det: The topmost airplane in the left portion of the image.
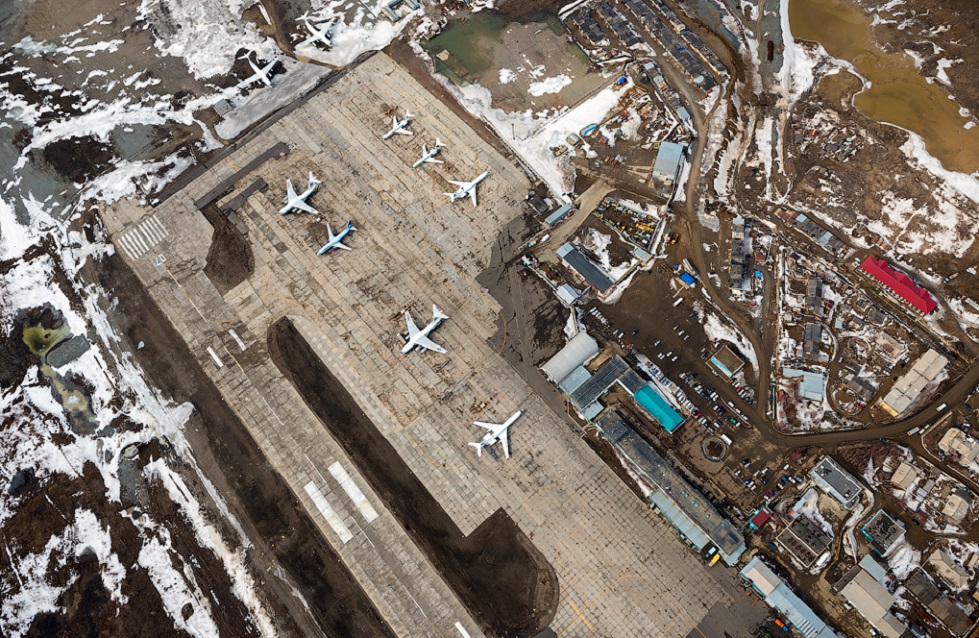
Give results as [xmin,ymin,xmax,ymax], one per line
[295,12,337,45]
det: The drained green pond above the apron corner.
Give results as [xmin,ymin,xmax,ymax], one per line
[420,8,512,87]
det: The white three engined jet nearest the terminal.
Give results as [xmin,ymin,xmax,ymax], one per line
[468,409,524,458]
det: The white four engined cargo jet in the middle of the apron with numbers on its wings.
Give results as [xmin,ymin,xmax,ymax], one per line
[402,300,453,353]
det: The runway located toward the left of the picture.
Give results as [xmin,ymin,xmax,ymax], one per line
[112,204,485,638]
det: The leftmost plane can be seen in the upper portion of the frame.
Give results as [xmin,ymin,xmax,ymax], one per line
[236,52,280,86]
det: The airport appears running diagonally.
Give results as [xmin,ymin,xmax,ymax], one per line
[100,50,789,638]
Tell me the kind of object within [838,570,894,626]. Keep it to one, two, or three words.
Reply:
barn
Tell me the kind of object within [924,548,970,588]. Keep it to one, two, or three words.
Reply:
house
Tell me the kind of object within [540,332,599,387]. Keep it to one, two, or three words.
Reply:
hangar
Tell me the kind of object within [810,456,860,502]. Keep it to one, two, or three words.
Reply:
building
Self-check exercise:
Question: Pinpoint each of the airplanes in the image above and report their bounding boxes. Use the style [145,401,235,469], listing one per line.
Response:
[295,12,337,45]
[443,171,490,207]
[402,300,453,353]
[236,52,280,86]
[279,172,329,217]
[413,137,450,167]
[383,108,418,139]
[317,223,359,255]
[468,409,524,458]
